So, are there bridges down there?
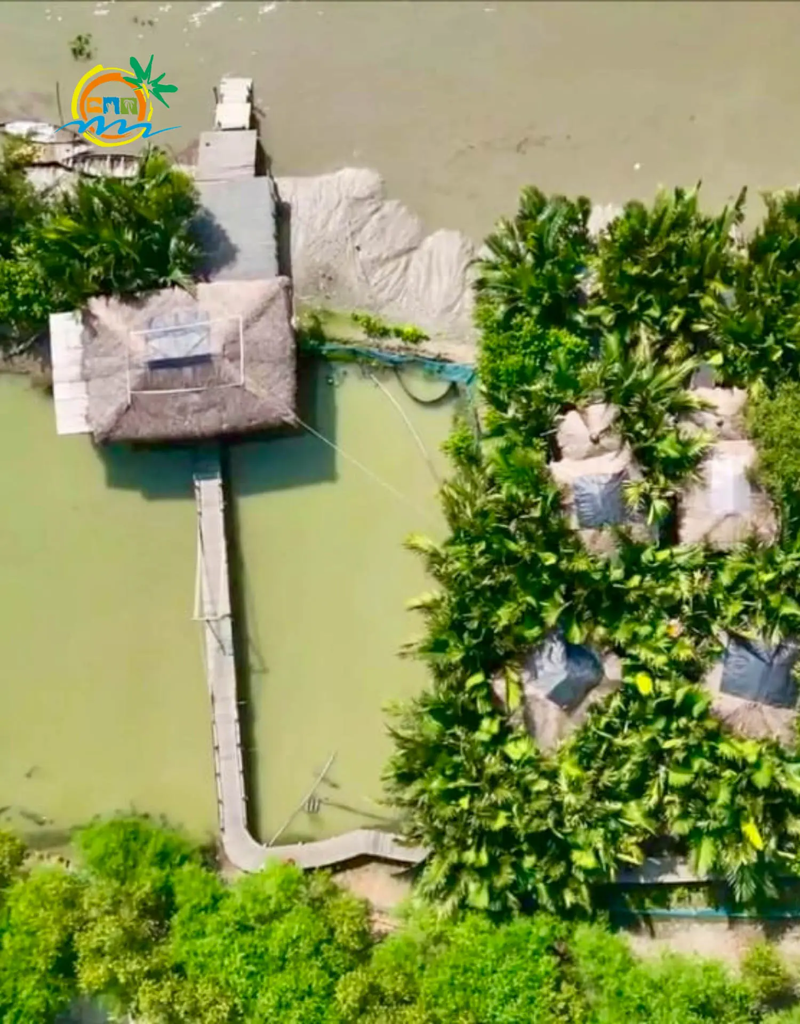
No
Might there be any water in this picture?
Yes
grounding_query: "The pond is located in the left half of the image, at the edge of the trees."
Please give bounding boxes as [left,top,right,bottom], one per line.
[0,352,485,856]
